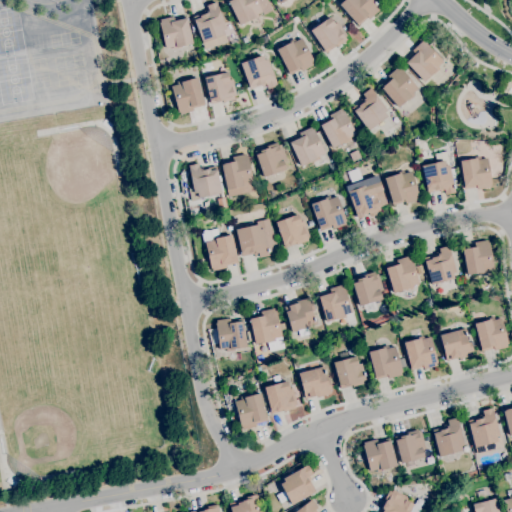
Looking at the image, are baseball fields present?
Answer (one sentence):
Yes, looking at the shot, I can spot a baseball field.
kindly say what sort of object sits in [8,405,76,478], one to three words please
baseball field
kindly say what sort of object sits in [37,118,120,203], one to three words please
baseball field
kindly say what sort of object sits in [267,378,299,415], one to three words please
house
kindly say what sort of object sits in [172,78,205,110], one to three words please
house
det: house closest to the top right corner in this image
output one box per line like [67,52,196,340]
[408,40,448,81]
